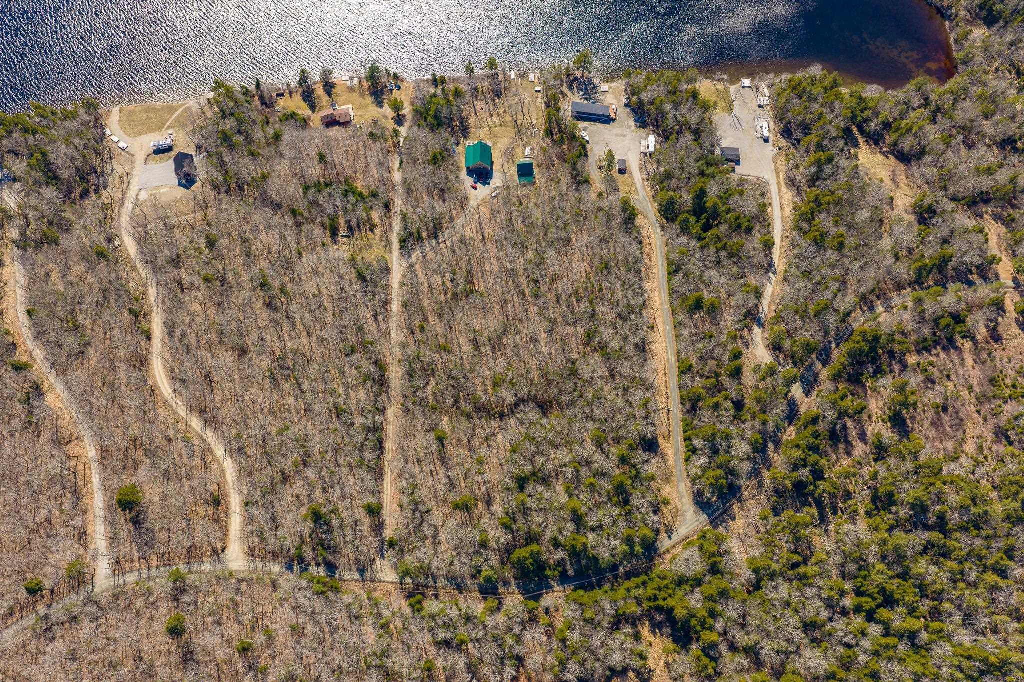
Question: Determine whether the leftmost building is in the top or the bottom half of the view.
top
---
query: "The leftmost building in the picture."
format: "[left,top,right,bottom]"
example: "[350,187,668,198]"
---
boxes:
[173,151,196,177]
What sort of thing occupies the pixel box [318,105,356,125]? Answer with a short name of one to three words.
building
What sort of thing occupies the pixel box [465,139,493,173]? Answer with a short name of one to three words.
house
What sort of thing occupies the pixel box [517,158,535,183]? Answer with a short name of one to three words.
shed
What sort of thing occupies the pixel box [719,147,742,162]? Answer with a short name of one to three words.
building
